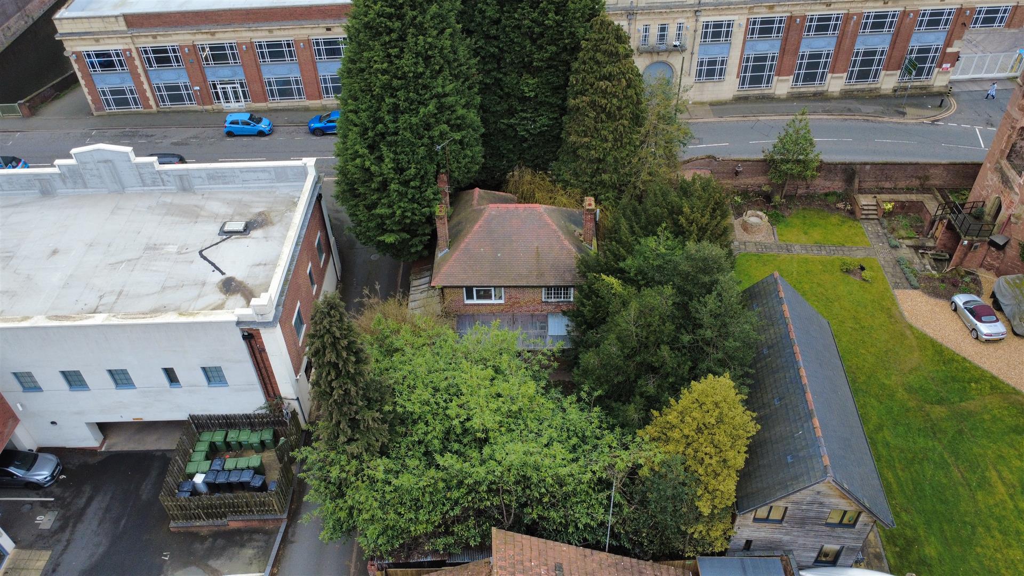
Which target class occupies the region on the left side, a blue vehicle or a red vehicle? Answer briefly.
blue vehicle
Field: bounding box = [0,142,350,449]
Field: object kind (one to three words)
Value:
building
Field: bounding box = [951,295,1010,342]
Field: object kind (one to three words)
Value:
car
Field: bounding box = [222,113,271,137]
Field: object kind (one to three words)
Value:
car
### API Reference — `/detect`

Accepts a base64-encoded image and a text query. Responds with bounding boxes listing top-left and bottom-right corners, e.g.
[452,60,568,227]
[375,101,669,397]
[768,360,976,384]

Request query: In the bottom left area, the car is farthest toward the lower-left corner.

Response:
[0,445,61,490]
